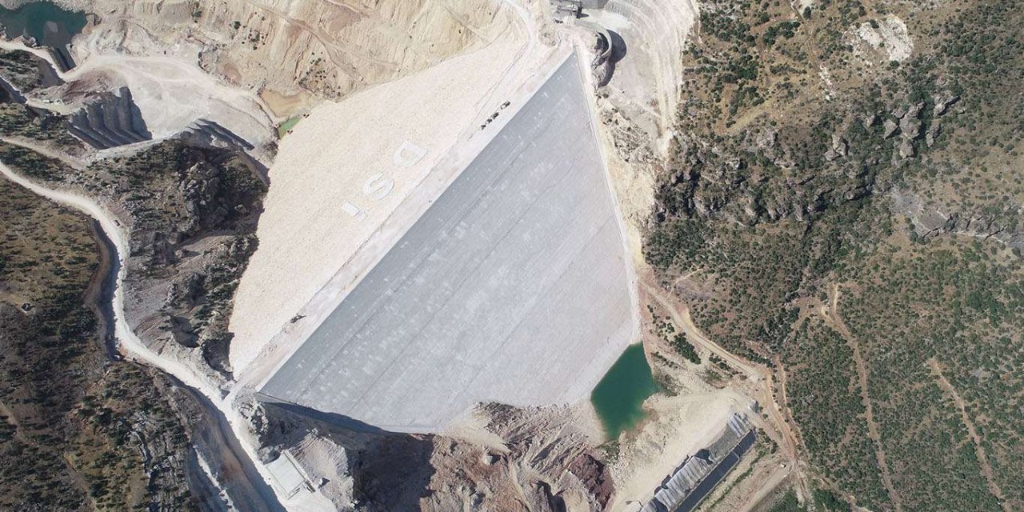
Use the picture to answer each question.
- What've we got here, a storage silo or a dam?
dam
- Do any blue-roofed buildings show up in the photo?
No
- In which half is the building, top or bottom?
bottom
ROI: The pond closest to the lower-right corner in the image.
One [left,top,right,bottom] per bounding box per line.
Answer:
[593,335,661,441]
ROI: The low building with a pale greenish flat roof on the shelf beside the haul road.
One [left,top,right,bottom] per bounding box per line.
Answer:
[264,450,318,500]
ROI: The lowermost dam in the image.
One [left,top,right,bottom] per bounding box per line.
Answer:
[227,29,645,432]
